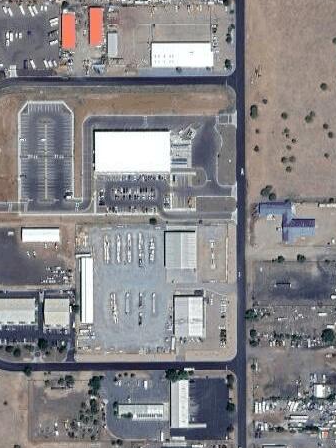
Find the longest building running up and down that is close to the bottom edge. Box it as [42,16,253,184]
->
[172,381,189,428]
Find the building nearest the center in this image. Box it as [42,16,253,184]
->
[166,232,196,268]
